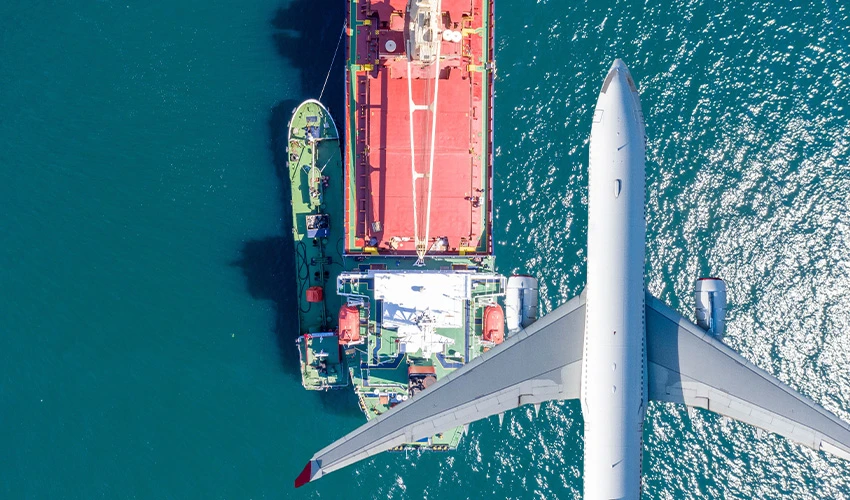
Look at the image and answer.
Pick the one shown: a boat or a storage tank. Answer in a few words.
boat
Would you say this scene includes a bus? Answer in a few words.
No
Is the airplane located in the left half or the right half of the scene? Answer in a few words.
right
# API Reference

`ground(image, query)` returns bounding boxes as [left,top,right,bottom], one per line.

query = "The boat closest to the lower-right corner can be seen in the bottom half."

[483,305,504,345]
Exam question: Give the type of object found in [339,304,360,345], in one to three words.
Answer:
boat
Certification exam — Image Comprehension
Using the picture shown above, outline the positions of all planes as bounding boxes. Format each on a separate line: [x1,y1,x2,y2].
[295,59,850,500]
